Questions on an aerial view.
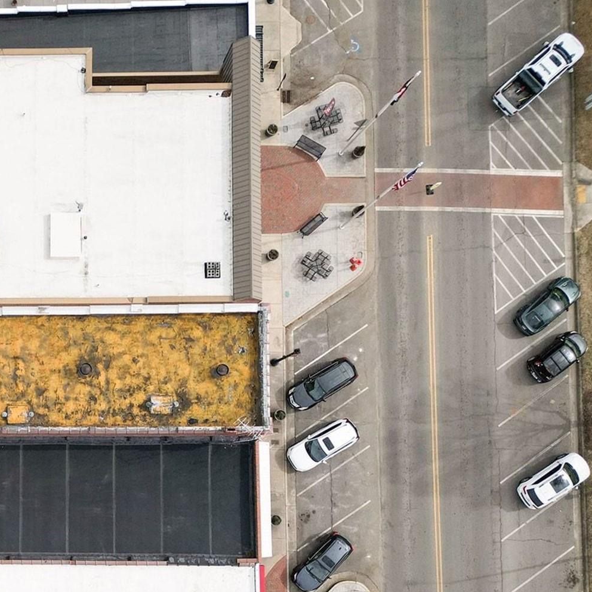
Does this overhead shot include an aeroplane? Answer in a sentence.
No, there isn't any aeroplane down there.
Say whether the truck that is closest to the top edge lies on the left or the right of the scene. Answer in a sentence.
The truck that is closest to the top edge sits on the right side.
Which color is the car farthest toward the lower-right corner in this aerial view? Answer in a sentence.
The car farthest toward the lower-right corner looks white in the image.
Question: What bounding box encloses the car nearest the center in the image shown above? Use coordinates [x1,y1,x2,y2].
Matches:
[283,356,359,411]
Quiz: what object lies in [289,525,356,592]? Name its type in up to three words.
car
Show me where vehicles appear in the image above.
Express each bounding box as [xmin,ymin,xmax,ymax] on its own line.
[283,356,359,411]
[510,452,587,511]
[289,525,356,592]
[519,332,585,387]
[491,38,579,116]
[283,415,360,473]
[505,278,578,340]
